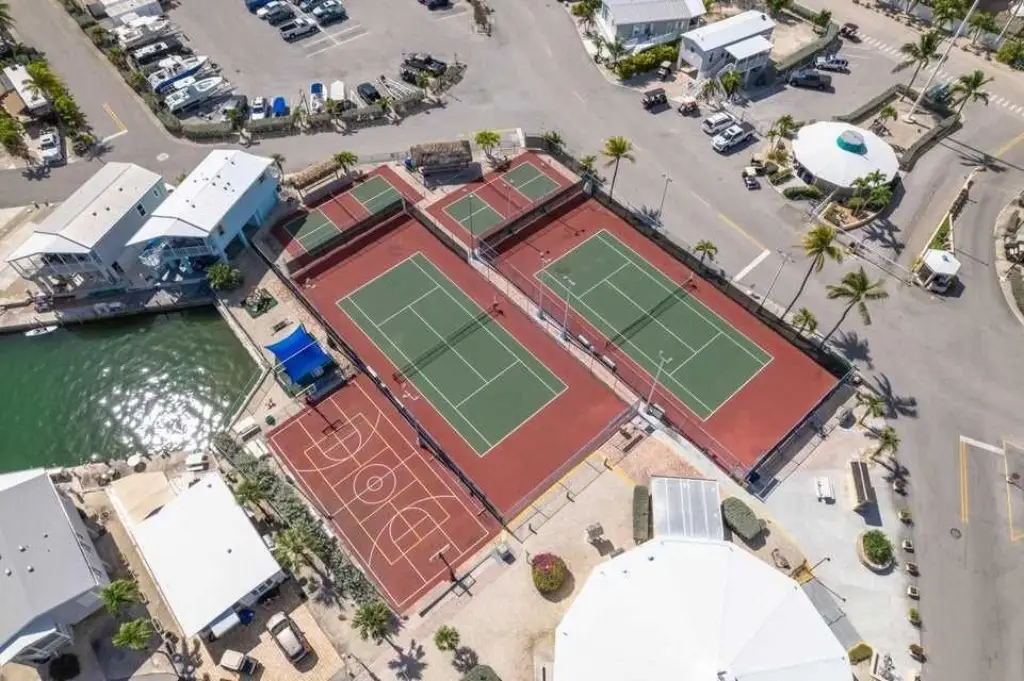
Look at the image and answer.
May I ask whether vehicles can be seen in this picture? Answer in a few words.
Yes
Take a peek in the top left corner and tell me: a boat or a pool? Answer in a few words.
boat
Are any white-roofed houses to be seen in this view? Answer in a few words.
Yes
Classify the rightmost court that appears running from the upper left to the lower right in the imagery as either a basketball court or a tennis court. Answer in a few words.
tennis court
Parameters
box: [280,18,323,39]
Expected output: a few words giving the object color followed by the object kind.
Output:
gray truck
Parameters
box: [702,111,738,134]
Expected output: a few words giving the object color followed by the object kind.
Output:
white car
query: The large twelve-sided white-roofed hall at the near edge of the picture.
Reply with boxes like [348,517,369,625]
[552,538,854,681]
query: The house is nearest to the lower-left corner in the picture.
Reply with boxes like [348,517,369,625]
[0,452,120,681]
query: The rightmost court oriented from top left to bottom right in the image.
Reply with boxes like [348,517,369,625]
[482,187,840,475]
